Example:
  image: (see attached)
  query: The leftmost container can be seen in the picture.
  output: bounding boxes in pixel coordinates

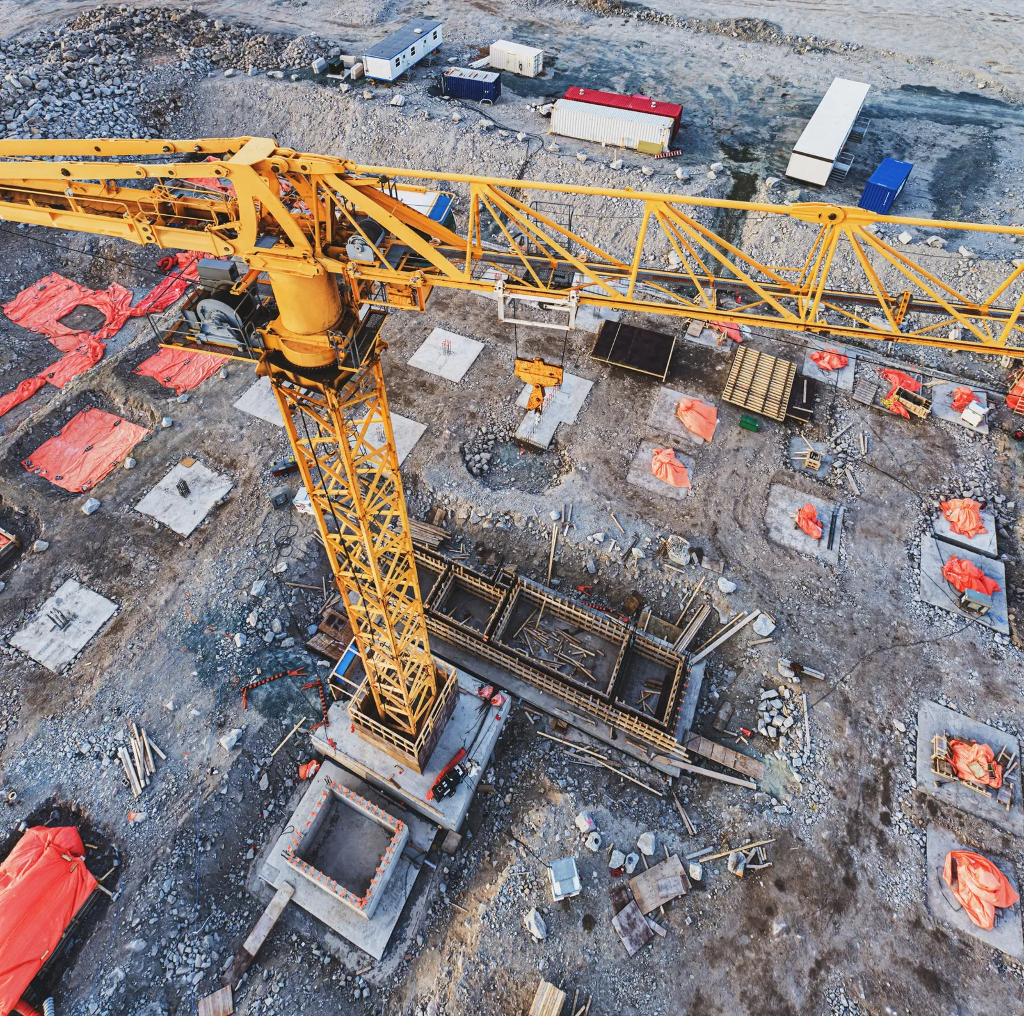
[445,60,505,104]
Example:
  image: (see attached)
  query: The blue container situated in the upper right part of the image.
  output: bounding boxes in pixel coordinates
[859,152,917,213]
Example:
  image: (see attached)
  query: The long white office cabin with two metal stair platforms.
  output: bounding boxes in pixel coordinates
[787,74,881,189]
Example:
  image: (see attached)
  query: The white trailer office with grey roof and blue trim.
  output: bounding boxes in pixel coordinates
[360,15,449,86]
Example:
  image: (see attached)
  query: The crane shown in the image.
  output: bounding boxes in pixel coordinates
[0,130,1024,738]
